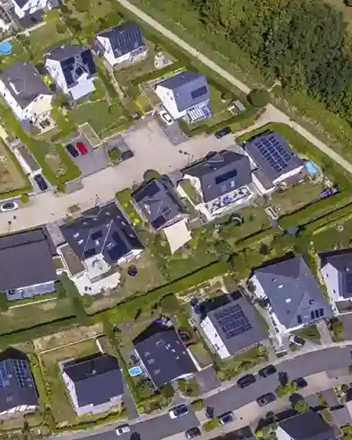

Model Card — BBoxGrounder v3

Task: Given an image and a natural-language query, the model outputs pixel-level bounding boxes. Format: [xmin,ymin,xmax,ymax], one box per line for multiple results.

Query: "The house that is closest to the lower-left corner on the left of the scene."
[0,357,39,414]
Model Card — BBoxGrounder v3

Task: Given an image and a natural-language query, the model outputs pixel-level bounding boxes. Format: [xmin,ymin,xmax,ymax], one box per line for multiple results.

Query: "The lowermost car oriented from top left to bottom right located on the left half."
[35,173,48,190]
